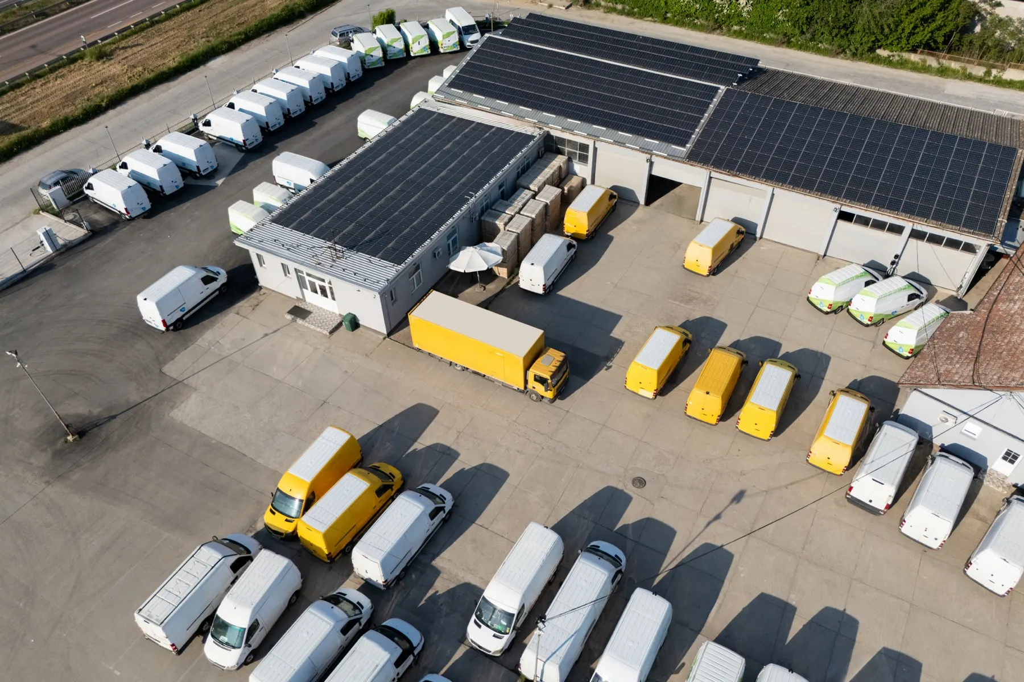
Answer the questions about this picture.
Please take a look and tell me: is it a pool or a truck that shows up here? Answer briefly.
truck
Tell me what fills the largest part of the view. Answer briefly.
paved ground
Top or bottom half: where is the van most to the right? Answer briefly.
bottom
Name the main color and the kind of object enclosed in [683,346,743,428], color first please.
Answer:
yellow van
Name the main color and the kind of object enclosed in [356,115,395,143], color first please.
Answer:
white van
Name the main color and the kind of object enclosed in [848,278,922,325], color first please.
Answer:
white van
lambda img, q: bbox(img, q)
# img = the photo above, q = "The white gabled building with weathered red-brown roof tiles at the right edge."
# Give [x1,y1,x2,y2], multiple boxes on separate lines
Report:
[897,241,1024,498]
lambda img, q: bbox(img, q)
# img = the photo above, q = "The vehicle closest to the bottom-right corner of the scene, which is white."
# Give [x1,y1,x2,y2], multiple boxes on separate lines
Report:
[962,494,1024,600]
